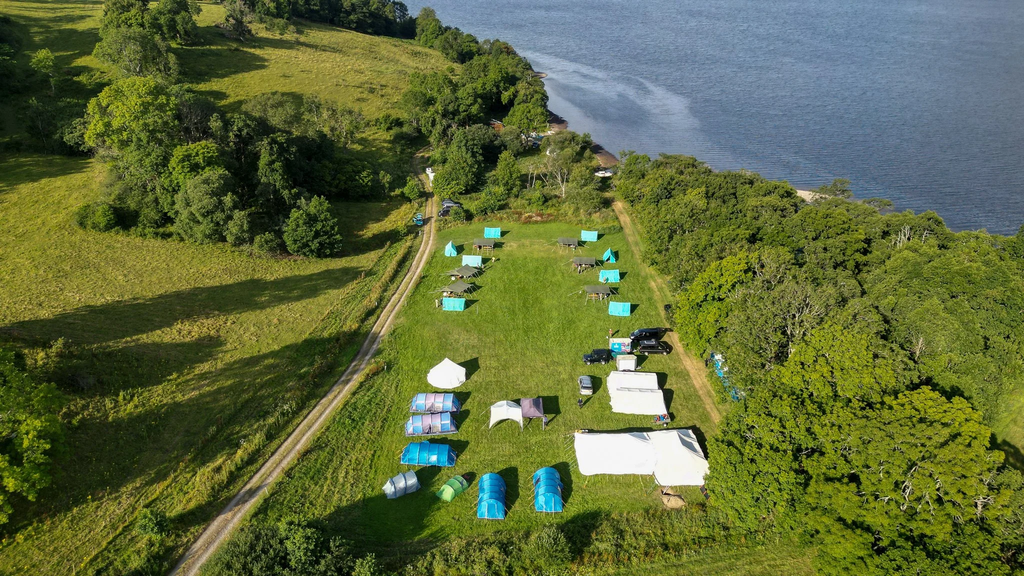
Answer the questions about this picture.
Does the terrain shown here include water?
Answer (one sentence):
Yes, water shows up in the scene.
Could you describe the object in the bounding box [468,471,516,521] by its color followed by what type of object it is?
blue tent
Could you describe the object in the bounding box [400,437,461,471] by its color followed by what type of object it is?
blue tent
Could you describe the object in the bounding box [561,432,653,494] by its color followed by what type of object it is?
white tent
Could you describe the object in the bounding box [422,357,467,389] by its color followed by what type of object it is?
white tent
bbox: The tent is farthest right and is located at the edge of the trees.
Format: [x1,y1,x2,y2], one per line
[647,430,710,497]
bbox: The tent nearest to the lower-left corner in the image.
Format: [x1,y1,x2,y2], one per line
[378,466,422,499]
